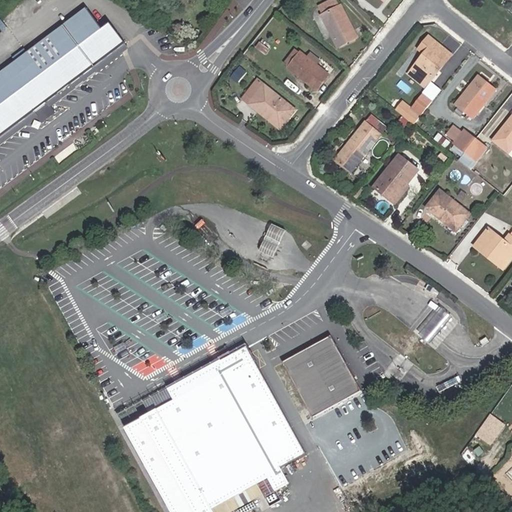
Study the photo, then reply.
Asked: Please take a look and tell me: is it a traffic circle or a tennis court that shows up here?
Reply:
traffic circle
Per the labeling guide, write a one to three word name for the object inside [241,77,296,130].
house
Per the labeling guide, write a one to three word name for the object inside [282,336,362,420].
building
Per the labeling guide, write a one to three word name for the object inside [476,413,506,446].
shed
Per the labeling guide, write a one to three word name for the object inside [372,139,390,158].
swimming pool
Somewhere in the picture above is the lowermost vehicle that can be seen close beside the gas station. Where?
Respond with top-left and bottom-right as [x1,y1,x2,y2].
[436,375,462,392]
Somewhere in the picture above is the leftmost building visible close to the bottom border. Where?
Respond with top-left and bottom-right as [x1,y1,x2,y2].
[119,346,304,512]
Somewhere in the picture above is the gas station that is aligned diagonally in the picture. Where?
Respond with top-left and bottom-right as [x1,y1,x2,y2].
[350,276,510,368]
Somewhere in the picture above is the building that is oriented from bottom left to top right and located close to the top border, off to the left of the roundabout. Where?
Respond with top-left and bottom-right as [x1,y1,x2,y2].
[0,7,124,138]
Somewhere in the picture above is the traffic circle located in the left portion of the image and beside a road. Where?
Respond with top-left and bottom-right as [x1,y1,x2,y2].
[148,60,208,120]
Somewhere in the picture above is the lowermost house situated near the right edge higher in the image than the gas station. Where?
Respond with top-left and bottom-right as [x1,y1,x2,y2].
[472,225,512,272]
